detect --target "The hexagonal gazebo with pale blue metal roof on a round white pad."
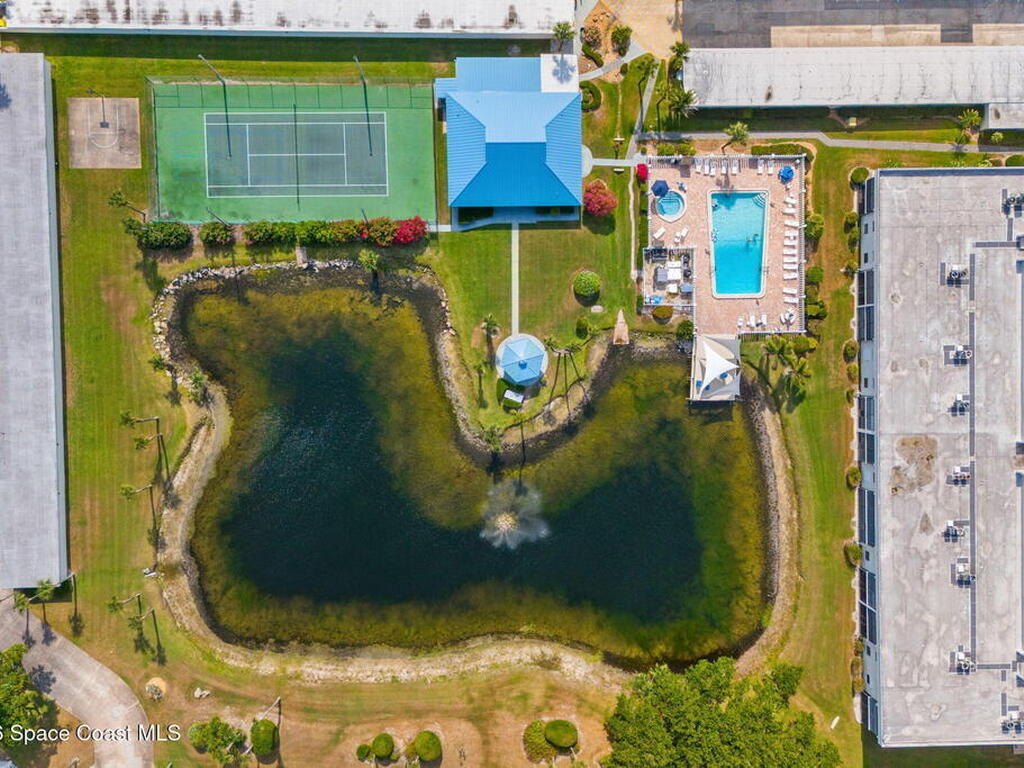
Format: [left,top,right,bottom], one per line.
[497,335,548,387]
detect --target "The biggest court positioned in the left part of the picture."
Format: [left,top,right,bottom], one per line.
[154,83,436,222]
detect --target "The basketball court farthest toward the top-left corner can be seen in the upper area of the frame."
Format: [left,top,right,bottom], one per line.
[68,97,141,168]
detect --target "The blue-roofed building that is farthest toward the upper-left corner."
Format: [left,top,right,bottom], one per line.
[435,54,582,208]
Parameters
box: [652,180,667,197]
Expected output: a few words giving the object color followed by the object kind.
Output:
blue umbrella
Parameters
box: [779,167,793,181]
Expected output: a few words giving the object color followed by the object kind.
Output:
blue umbrella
